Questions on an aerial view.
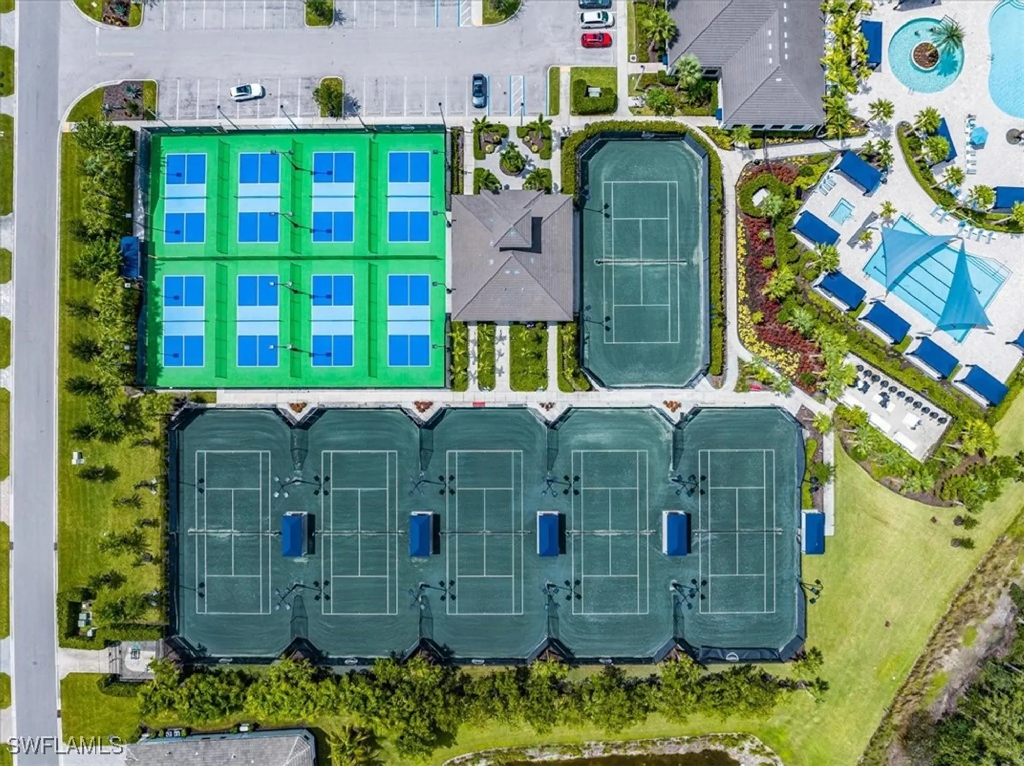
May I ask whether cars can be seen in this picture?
Yes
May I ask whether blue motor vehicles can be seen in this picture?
Yes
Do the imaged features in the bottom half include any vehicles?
No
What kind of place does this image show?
sports ground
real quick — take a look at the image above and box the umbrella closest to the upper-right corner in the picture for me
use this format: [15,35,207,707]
[965,127,987,147]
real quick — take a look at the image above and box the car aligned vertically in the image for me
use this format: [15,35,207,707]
[471,74,487,109]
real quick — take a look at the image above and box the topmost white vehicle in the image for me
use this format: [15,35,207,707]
[580,10,614,29]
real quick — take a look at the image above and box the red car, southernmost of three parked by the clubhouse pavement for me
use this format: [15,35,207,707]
[581,31,612,48]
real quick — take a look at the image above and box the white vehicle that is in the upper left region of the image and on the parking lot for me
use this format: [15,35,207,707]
[230,82,264,102]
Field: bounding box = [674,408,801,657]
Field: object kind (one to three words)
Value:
tennis court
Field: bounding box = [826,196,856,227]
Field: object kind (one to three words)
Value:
swimming pool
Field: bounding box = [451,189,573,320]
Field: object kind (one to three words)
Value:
building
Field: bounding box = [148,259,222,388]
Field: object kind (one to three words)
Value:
sports court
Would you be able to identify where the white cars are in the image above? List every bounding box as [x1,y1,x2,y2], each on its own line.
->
[230,82,264,102]
[580,10,614,29]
